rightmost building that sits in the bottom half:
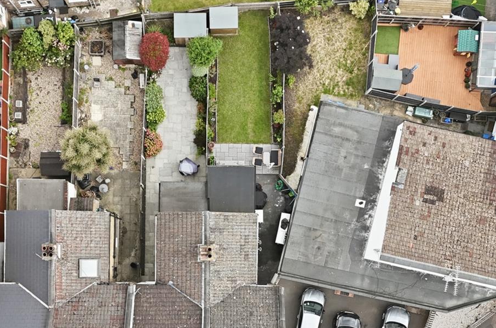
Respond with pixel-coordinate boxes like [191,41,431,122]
[276,97,496,314]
